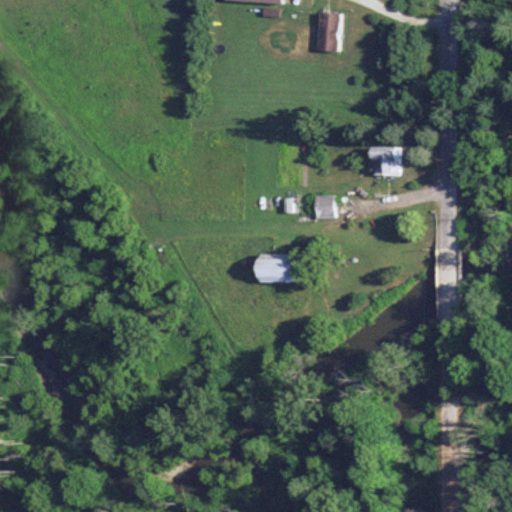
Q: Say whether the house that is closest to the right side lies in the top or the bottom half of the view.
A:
top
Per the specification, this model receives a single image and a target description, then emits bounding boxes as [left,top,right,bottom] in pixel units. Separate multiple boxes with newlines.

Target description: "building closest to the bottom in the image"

[253,254,294,282]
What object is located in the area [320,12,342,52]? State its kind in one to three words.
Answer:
house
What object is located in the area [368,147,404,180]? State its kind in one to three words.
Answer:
house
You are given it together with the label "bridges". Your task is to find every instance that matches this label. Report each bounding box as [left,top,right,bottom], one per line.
[438,242,461,332]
